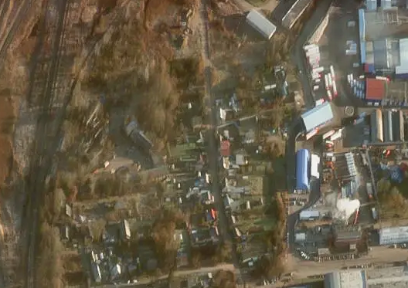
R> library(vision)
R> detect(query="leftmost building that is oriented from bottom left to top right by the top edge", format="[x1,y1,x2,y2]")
[281,0,313,30]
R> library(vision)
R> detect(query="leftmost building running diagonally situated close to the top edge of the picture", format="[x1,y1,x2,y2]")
[246,8,276,41]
